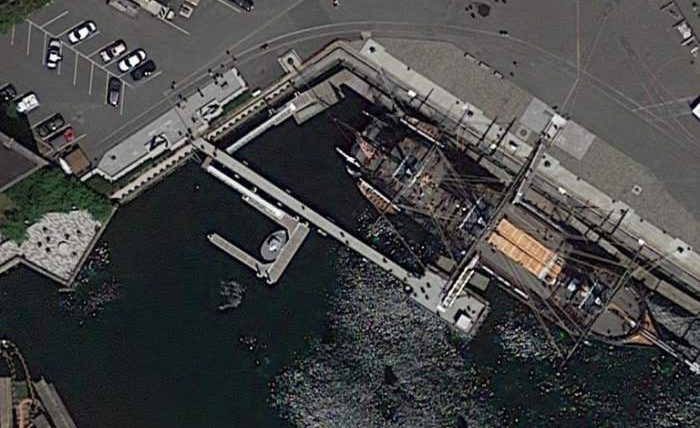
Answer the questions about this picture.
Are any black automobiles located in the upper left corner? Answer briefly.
Yes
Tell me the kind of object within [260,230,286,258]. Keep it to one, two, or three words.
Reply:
boat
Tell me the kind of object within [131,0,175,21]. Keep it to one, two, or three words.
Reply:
truck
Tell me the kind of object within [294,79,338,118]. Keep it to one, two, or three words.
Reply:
pier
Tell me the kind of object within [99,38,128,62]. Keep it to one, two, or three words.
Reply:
car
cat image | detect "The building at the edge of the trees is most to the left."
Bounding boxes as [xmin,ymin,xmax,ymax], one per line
[0,129,48,193]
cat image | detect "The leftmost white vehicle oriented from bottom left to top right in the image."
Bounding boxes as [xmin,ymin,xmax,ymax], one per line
[13,91,40,113]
